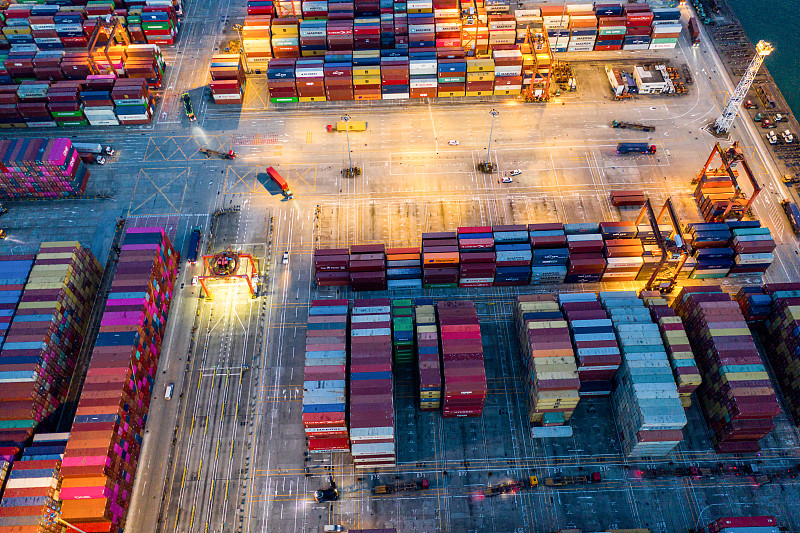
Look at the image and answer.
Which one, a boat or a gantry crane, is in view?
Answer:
gantry crane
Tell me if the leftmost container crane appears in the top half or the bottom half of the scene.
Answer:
top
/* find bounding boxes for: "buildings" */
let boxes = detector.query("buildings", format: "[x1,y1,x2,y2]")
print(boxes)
[613,71,632,95]
[634,67,673,94]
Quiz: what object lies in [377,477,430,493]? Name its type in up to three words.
vehicle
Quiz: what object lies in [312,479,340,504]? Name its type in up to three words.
work vehicle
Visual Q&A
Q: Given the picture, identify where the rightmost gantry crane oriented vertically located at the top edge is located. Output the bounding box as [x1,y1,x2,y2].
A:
[523,25,559,102]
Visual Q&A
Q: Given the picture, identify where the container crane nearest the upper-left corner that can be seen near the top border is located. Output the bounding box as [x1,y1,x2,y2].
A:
[78,20,127,74]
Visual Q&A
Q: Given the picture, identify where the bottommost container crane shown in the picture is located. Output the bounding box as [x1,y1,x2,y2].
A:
[193,249,259,306]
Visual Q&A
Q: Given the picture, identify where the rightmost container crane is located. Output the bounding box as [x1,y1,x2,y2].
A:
[686,140,765,221]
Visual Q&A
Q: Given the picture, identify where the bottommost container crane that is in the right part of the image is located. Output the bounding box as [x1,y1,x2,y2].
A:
[632,196,695,291]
